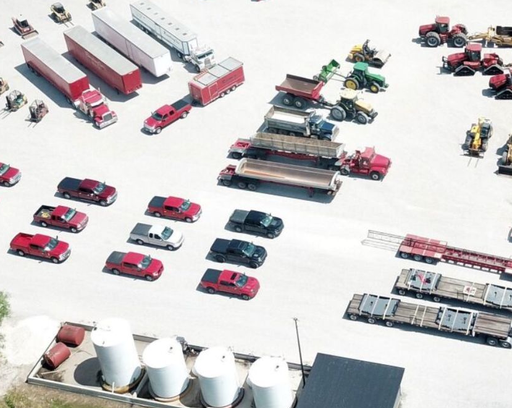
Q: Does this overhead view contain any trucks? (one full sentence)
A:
Yes, there's a truck down there.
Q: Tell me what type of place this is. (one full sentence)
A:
The picture captures an industrial area.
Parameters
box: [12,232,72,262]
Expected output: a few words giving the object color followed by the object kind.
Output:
red truck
